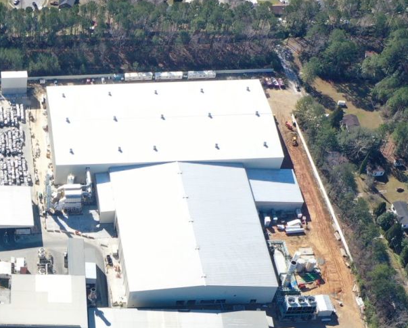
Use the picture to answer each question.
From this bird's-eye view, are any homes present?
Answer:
Yes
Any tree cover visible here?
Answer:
Yes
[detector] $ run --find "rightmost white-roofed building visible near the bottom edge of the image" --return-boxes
[314,294,333,319]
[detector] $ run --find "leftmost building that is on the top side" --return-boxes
[0,70,27,95]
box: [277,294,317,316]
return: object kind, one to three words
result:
cooling tower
